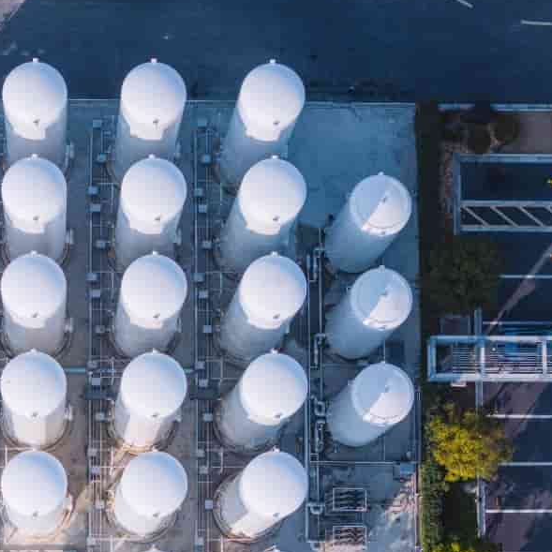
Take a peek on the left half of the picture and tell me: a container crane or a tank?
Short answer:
tank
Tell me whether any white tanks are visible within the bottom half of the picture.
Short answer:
Yes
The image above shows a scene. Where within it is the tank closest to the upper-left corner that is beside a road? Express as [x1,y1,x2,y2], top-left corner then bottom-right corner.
[0,60,74,186]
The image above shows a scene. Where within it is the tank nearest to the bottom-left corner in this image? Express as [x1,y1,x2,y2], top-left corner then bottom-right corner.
[0,447,73,552]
